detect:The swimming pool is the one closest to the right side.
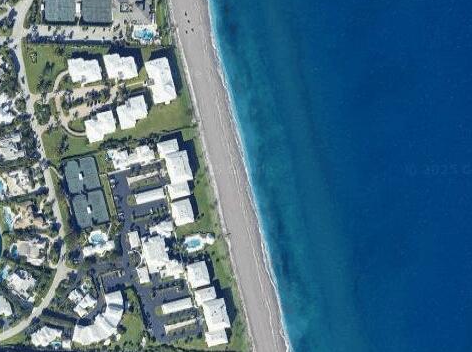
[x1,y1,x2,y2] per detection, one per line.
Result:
[185,236,204,252]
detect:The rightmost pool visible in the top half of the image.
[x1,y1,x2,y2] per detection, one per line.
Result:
[133,24,157,45]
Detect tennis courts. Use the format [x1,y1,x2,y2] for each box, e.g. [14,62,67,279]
[71,194,93,228]
[45,0,60,21]
[87,189,109,224]
[78,155,102,191]
[60,0,74,22]
[65,160,85,194]
[81,0,97,22]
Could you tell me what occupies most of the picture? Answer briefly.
water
